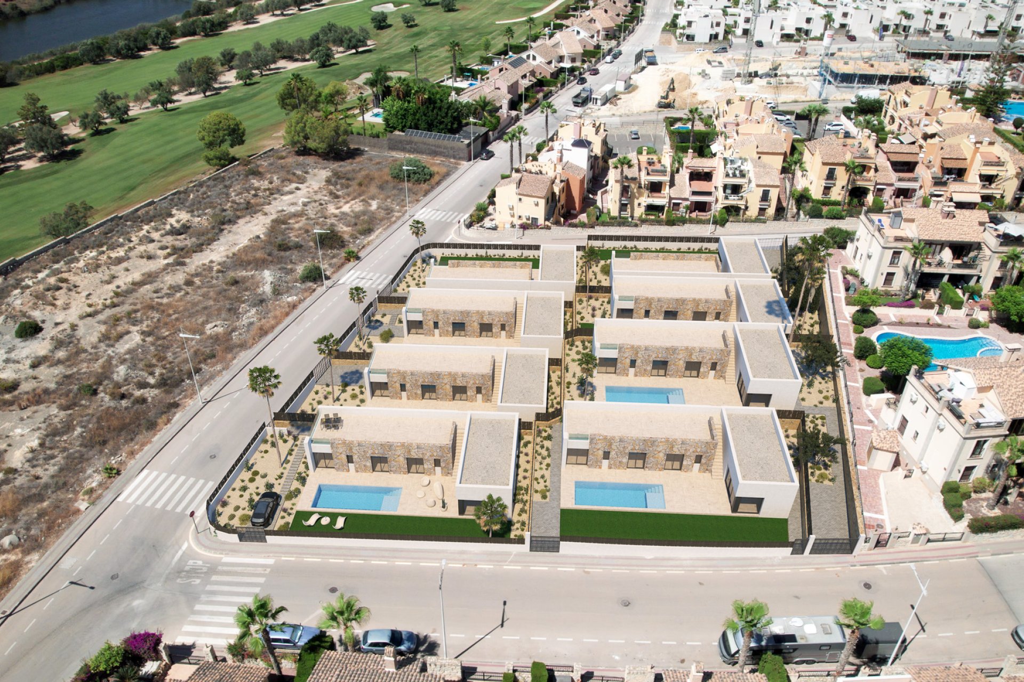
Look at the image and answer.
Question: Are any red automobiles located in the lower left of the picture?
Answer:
No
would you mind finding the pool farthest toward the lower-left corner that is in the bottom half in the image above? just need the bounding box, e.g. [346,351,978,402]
[304,482,404,514]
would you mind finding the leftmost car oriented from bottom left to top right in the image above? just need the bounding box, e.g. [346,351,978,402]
[245,486,283,527]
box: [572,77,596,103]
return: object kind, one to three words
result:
truck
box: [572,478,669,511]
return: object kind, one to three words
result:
swimming pool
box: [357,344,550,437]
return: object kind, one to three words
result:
house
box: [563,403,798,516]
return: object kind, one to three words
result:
house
